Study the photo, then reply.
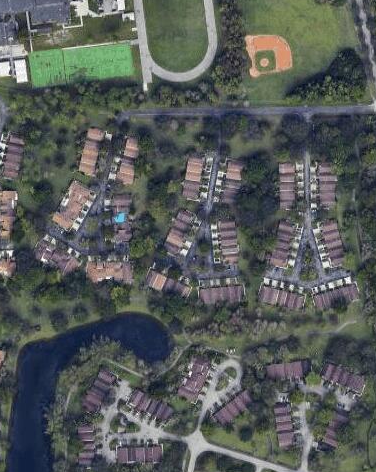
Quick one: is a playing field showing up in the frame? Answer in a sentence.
Yes, a playing field is visible in the scene.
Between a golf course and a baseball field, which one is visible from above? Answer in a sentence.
I can see a baseball field in this picture.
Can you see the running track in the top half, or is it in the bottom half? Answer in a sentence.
Seen from above, the running track lies in the top half of the view.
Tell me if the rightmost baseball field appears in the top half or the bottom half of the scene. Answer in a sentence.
It is in the top half that the rightmost baseball field appears.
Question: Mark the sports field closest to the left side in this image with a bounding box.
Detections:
[29,44,134,88]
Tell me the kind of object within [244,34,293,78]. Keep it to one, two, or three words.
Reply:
baseball field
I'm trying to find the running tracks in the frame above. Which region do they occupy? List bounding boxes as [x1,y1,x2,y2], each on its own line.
[135,0,217,82]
